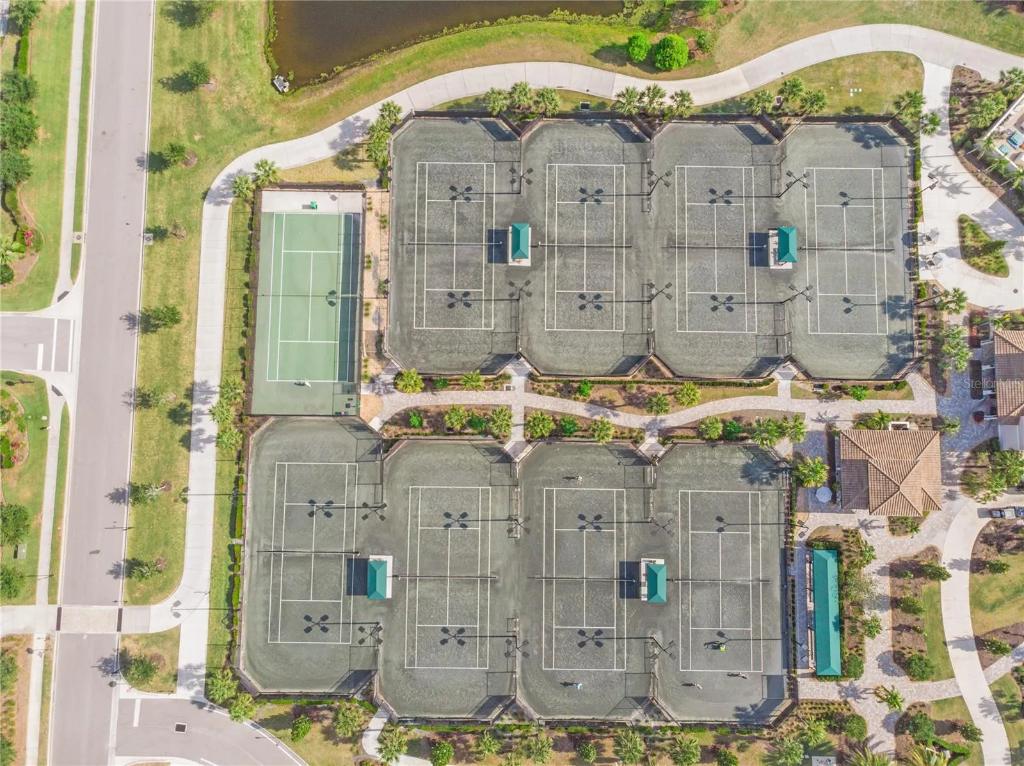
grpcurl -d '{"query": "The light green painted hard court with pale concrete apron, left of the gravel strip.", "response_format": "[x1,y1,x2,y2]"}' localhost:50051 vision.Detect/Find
[252,193,361,415]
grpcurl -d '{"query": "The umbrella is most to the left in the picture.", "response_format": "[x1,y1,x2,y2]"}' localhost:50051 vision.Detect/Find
[815,485,832,502]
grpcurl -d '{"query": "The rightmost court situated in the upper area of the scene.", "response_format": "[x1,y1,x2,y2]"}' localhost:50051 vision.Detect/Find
[780,123,913,378]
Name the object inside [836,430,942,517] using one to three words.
building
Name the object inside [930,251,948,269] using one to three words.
umbrella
